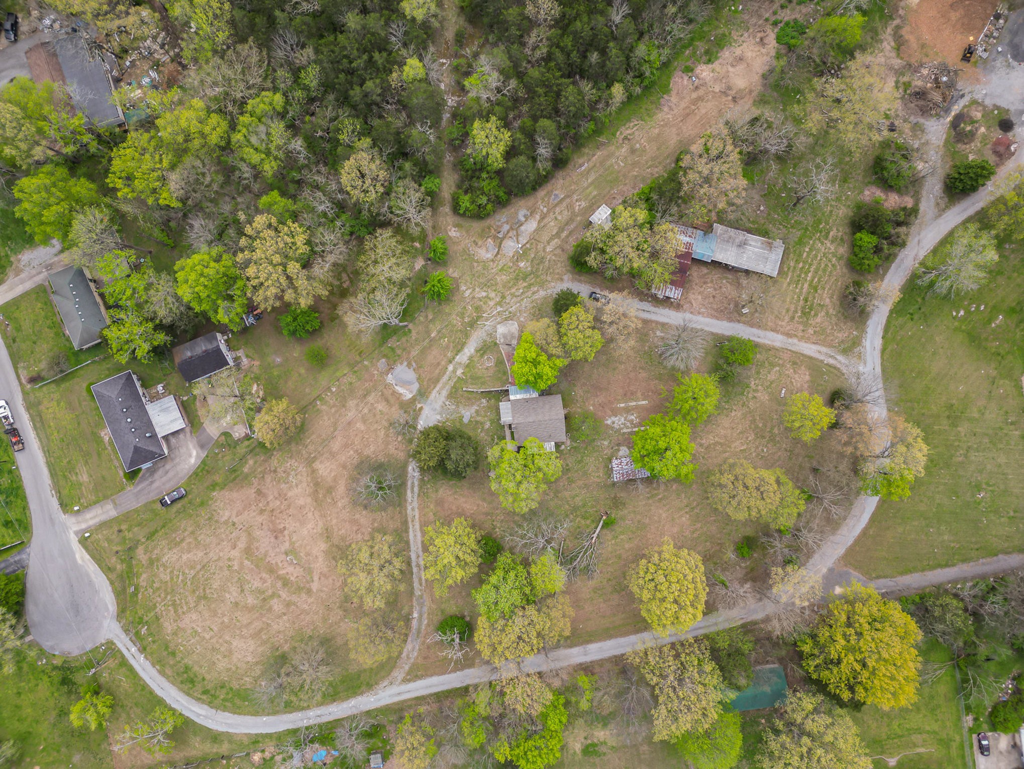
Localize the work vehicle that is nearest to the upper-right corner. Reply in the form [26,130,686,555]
[956,44,976,67]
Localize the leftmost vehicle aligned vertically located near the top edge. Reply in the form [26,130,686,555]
[3,13,19,44]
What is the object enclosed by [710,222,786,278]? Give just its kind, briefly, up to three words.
barn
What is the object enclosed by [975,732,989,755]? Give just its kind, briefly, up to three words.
car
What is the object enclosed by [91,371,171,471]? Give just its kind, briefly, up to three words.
house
